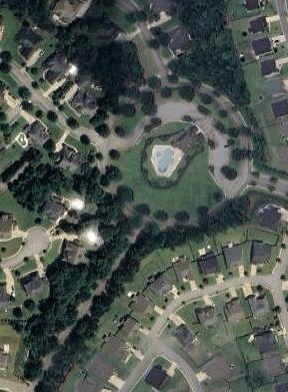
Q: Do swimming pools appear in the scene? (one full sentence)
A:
Yes, a swimming pool can be made out from above.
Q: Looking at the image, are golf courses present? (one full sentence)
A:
No, there isn't any golf course down there.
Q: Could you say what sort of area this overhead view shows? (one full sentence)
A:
This looks like a residential area.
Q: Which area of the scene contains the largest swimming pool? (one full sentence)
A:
The largest swimming pool is in the center part of the image.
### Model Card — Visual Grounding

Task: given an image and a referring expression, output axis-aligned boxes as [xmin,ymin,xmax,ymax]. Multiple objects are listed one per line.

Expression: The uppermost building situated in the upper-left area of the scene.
[51,0,79,21]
